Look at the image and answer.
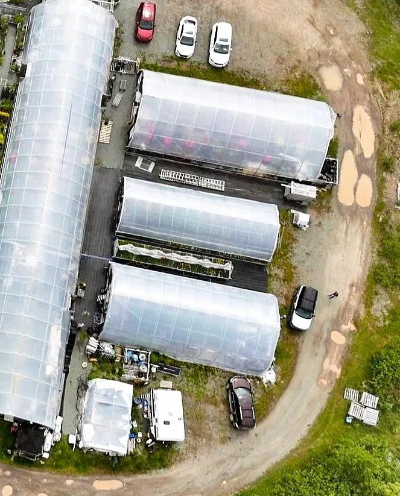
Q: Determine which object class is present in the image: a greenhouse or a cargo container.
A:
greenhouse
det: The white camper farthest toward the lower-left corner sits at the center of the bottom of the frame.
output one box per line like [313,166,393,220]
[147,391,184,452]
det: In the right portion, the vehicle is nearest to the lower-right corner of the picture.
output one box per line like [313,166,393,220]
[229,375,260,430]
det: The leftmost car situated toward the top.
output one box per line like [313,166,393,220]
[137,0,159,42]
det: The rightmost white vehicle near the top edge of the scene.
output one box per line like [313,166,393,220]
[210,18,235,66]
